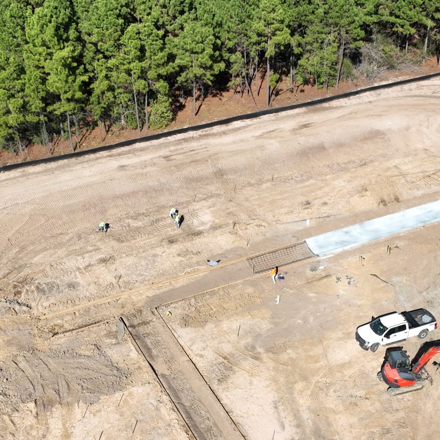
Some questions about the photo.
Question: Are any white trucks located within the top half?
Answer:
No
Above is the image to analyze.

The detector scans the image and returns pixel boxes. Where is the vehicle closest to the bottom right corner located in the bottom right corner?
[380,344,440,395]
